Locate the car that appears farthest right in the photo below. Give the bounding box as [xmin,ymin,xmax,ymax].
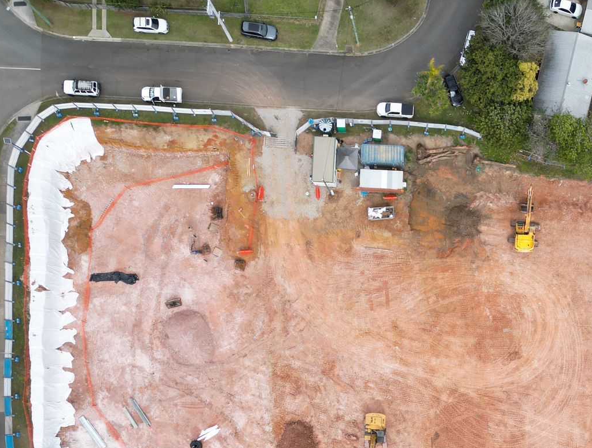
[550,0,583,16]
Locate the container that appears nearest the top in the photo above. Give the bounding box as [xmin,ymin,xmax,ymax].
[361,144,406,170]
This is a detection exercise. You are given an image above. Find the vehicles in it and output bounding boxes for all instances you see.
[459,26,480,65]
[550,0,583,16]
[130,13,167,34]
[441,71,464,106]
[364,414,386,448]
[239,17,275,39]
[376,99,414,117]
[60,76,98,94]
[511,180,539,251]
[141,82,179,106]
